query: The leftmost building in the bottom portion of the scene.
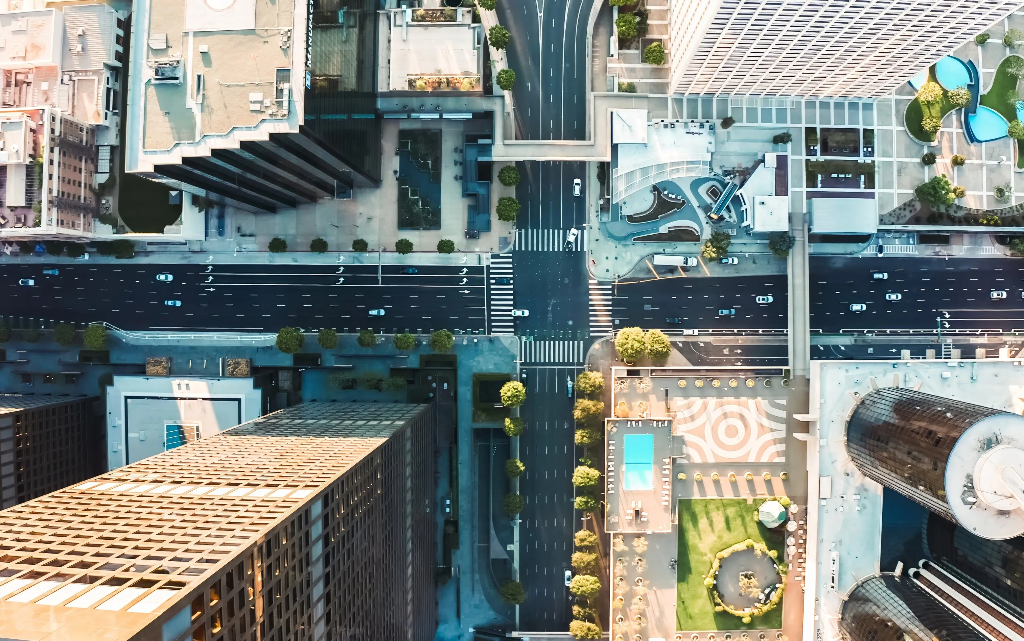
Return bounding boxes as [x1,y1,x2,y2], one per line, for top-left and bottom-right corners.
[0,395,104,504]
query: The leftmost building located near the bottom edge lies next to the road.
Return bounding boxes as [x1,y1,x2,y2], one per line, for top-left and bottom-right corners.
[0,401,438,641]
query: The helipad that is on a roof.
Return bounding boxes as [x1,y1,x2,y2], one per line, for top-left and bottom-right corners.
[187,0,258,31]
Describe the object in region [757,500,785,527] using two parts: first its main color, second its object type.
white gazebo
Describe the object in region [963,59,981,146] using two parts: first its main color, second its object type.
blue swimming pool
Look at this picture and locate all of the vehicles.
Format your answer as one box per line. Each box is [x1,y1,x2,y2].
[165,299,181,307]
[157,274,173,281]
[719,308,735,316]
[719,257,738,265]
[565,230,577,249]
[872,273,888,279]
[71,253,91,260]
[850,304,866,311]
[758,295,774,303]
[521,367,528,383]
[683,329,698,336]
[876,243,885,259]
[566,380,573,398]
[496,277,511,285]
[574,179,580,195]
[41,268,61,276]
[990,291,1006,299]
[512,310,528,316]
[885,293,901,300]
[564,571,572,587]
[653,255,698,265]
[117,254,133,260]
[401,267,417,274]
[367,309,386,316]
